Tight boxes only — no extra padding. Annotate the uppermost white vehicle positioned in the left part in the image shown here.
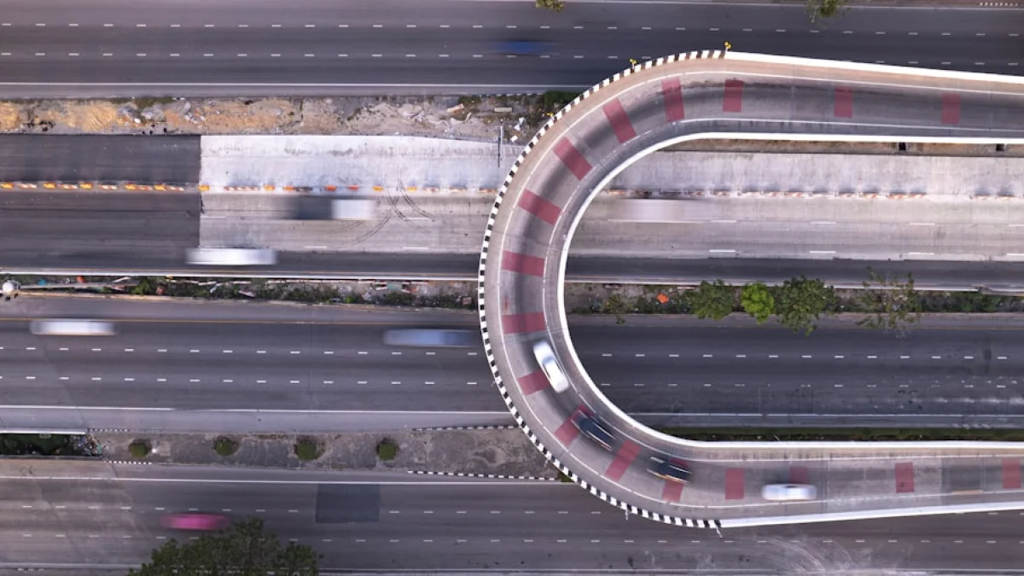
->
[294,196,374,221]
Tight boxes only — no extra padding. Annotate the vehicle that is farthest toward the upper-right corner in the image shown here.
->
[620,199,697,223]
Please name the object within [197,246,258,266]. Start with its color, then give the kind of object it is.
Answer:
white vehicle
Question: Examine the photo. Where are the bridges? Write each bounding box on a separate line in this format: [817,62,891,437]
[478,51,1024,528]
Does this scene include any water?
No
